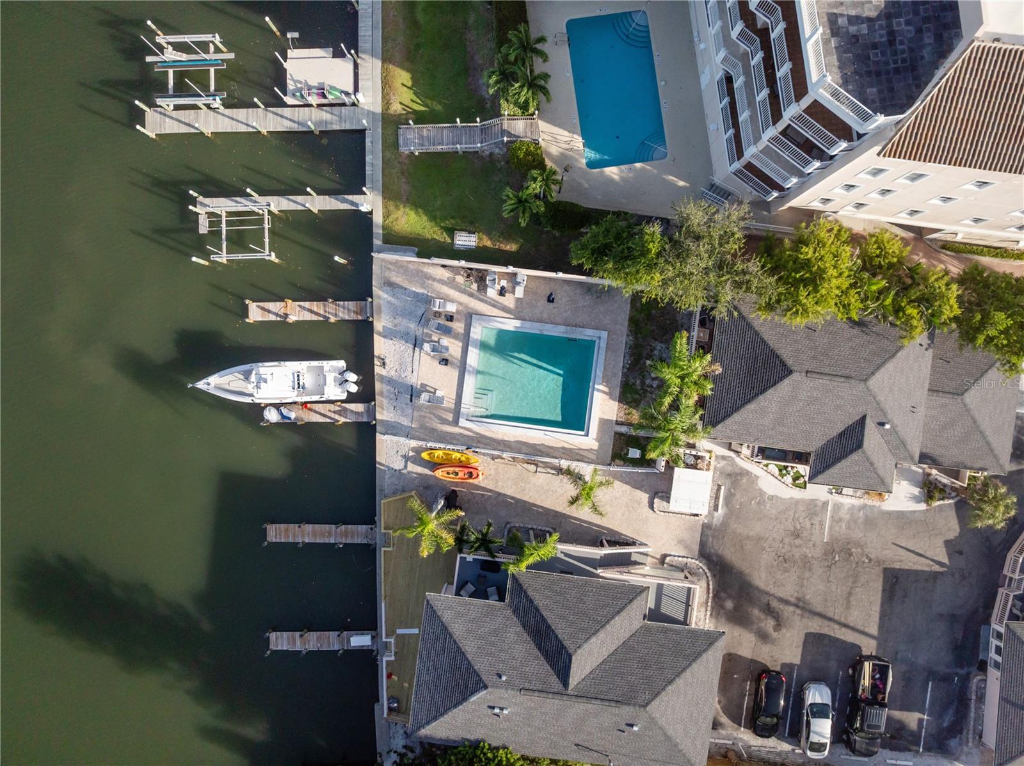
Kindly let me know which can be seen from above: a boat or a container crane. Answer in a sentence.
The one in the frame is a boat.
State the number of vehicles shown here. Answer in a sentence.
In total, there are 3 vehicles in the scene.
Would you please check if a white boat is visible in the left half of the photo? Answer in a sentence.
Yes, a white boat can be seen in the left half of the photo.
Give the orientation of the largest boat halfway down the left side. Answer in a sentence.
Seen from above, the largest boat halfway down the left side lies from left to right.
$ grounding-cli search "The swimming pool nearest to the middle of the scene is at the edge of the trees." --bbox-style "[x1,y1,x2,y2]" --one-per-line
[459,315,607,440]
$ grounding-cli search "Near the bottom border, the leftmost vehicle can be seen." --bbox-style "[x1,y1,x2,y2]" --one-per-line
[750,669,788,738]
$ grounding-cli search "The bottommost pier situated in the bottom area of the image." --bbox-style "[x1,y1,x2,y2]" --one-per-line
[265,623,378,655]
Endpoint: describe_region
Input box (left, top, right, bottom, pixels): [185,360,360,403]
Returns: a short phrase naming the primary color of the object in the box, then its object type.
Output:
white boat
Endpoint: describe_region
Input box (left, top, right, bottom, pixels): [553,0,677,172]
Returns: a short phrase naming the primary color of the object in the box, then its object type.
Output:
blue swimming pool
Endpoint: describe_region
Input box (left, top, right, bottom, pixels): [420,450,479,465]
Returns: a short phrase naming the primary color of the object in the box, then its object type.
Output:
yellow boat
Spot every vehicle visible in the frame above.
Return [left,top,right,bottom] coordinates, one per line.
[750,669,788,738]
[798,679,838,760]
[843,647,892,758]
